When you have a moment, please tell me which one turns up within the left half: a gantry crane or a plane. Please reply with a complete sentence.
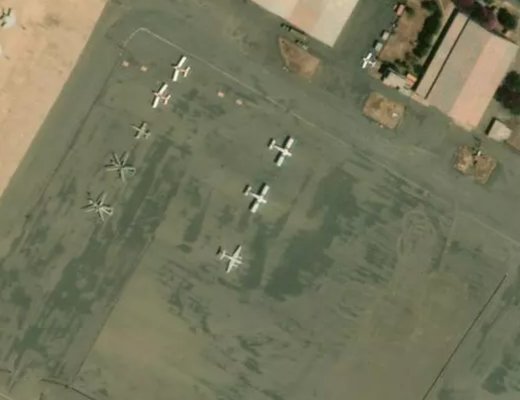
You can see a plane within the left half.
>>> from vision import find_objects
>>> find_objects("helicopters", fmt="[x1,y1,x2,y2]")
[84,193,114,222]
[106,153,136,182]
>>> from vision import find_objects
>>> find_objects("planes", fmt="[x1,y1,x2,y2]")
[245,185,270,214]
[219,245,243,273]
[363,54,375,68]
[172,56,189,82]
[132,122,151,139]
[153,84,170,109]
[271,137,294,167]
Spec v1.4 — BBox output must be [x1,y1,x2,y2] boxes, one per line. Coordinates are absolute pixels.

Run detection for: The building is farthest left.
[251,0,359,47]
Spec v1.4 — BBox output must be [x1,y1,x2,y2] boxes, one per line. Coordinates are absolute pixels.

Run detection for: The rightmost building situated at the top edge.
[416,11,518,131]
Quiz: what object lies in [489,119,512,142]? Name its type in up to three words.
building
